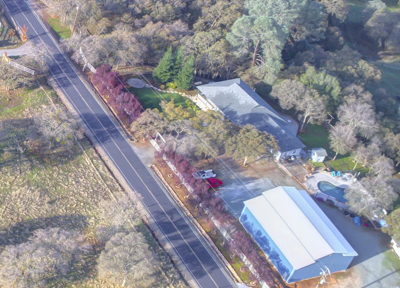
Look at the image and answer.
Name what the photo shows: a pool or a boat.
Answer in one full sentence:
There is a pool in the scene.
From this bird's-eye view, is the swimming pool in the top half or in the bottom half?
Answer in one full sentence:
Seen from above, the swimming pool lies in the bottom half of the view.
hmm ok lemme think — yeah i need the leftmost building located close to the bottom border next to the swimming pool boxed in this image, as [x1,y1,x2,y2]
[237,188,361,283]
